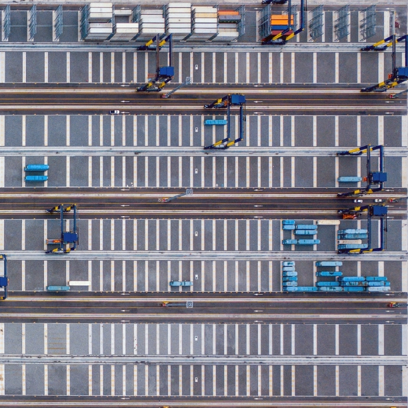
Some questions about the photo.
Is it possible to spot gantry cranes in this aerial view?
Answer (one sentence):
Yes, the picture does show a gantry crane.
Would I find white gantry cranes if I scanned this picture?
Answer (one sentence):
No, no white gantry crane is visible in the scene.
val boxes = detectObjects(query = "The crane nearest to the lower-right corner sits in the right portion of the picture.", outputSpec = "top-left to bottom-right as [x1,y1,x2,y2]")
[338,205,387,256]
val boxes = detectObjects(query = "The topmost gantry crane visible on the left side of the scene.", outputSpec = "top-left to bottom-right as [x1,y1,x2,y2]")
[137,34,175,93]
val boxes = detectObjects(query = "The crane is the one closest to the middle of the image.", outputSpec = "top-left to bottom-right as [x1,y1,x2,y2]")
[203,94,246,151]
